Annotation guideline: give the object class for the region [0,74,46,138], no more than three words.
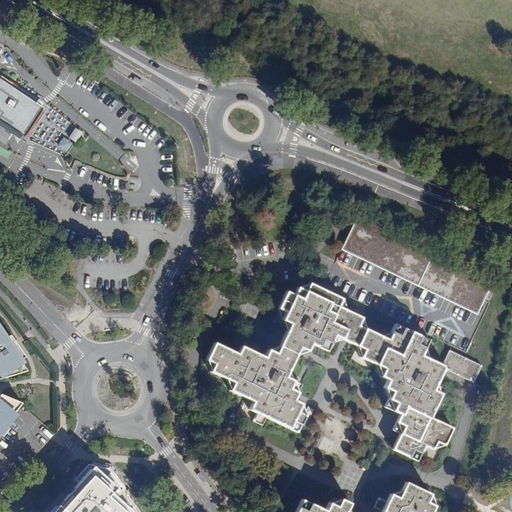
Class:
building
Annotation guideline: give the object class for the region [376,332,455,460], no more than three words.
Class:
building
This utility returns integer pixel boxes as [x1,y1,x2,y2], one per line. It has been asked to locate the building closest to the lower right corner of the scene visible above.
[377,481,438,512]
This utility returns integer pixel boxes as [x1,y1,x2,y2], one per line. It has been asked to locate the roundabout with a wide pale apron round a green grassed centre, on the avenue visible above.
[206,84,282,160]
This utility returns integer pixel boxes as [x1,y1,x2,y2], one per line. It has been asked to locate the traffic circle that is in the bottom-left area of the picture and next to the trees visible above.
[75,345,160,433]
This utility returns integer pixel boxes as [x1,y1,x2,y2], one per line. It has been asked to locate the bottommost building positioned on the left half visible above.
[42,462,148,512]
